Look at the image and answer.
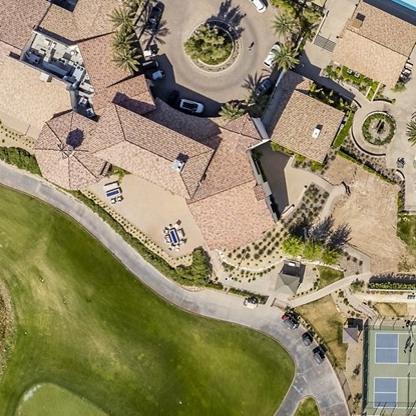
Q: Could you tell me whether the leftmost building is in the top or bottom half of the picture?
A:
top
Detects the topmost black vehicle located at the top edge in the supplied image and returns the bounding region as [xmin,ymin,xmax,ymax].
[148,5,163,29]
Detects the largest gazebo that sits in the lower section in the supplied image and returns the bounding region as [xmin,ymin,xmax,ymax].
[274,270,300,295]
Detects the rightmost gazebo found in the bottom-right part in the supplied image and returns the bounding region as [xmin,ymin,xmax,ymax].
[342,323,358,344]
